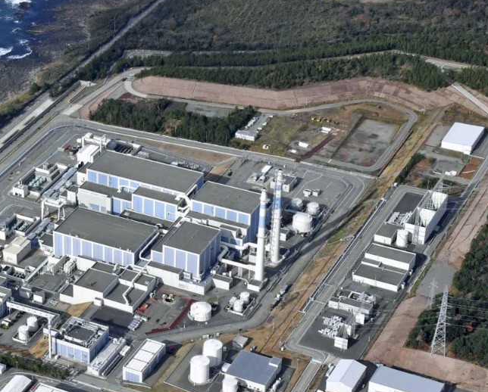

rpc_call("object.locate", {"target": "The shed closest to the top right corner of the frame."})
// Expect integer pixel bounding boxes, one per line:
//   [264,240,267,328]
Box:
[441,121,484,154]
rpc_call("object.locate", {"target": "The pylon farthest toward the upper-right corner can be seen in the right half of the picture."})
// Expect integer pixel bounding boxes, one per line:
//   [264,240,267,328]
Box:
[434,167,449,193]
